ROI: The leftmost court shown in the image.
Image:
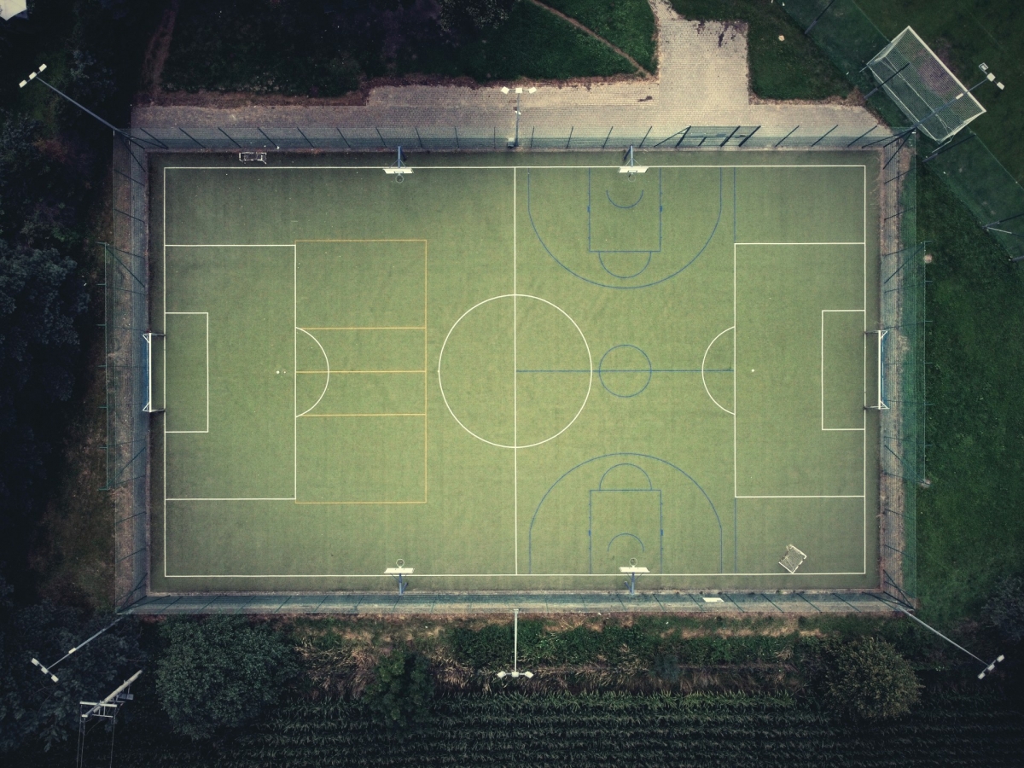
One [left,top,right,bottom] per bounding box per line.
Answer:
[296,239,427,504]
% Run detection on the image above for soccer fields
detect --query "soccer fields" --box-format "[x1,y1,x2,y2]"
[146,148,884,595]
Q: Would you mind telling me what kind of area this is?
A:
sports ground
